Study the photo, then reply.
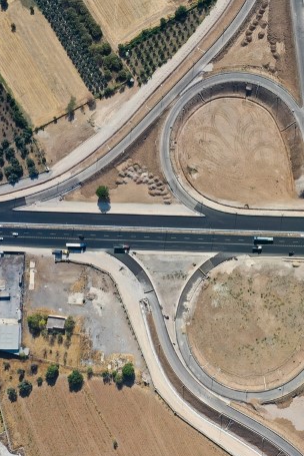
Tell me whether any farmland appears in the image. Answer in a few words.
Yes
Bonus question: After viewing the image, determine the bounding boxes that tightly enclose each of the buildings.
[0,317,25,349]
[46,315,69,332]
